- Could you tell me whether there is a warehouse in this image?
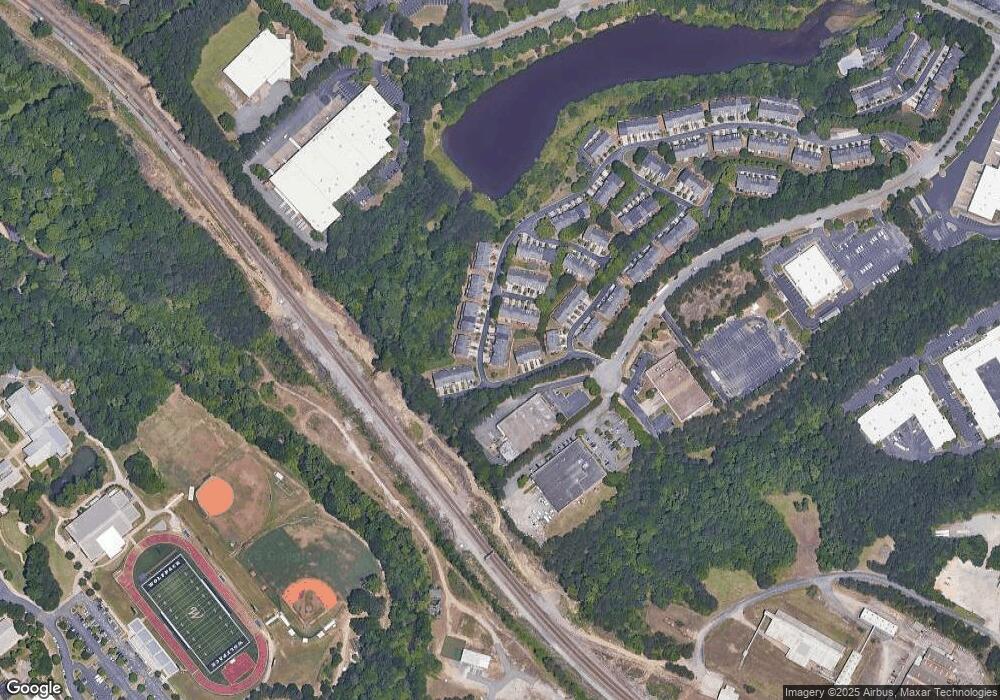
Yes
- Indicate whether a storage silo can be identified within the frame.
No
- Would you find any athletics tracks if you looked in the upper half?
No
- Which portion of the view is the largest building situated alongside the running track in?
bottom left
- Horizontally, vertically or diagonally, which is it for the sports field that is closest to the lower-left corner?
diagonally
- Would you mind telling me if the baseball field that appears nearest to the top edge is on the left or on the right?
left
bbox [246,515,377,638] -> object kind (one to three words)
baseball field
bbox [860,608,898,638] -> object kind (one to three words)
building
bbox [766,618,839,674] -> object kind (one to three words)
building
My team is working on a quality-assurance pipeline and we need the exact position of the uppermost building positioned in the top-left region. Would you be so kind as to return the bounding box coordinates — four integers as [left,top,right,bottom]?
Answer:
[223,28,290,98]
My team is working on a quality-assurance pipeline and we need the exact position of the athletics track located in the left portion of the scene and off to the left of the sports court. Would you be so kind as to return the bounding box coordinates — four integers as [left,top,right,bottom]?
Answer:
[109,533,270,695]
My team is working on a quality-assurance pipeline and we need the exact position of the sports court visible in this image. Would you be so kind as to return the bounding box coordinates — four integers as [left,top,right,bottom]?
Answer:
[441,636,467,662]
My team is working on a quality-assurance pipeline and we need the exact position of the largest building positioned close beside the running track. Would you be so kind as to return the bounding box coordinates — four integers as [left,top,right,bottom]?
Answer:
[64,488,140,562]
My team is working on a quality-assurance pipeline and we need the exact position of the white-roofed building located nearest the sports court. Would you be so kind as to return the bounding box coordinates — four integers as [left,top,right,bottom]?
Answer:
[461,648,491,669]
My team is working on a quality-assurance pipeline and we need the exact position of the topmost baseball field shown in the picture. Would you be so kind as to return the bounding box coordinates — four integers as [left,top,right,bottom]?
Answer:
[195,478,234,515]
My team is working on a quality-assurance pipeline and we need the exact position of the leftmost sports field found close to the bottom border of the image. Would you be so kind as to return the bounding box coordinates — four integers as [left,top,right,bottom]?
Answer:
[132,544,259,684]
